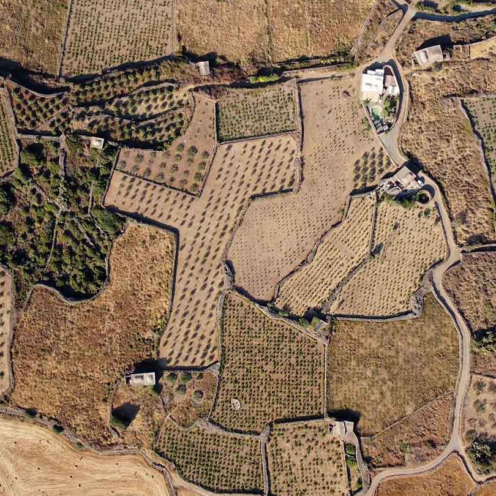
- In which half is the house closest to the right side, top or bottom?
top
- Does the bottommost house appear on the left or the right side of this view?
right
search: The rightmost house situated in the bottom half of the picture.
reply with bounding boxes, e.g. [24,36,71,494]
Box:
[332,419,357,444]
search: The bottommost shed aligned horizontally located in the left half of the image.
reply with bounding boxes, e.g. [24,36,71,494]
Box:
[125,371,156,386]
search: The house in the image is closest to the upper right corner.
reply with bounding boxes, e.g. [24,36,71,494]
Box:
[412,45,449,67]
